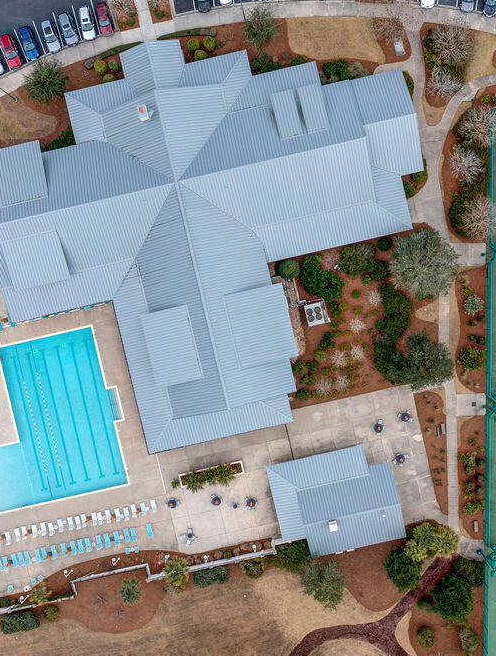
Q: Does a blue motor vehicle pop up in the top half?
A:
Yes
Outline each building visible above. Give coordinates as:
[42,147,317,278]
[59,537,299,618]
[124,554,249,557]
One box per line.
[266,445,406,557]
[0,40,424,455]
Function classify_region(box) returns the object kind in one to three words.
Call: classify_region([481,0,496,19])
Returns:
car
